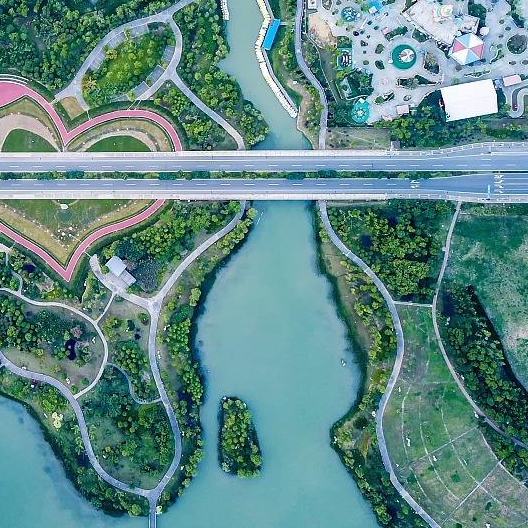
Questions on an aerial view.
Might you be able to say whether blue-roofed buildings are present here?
Yes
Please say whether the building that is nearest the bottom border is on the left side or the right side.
left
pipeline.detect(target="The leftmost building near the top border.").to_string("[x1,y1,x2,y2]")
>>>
[261,19,280,50]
